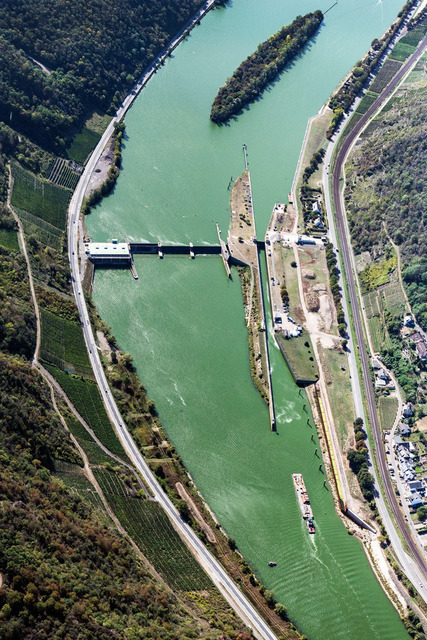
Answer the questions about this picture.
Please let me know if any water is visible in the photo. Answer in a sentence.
Yes, the picture does contain water.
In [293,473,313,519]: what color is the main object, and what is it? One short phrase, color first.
white ship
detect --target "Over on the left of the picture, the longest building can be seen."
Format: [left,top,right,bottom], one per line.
[89,241,131,261]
